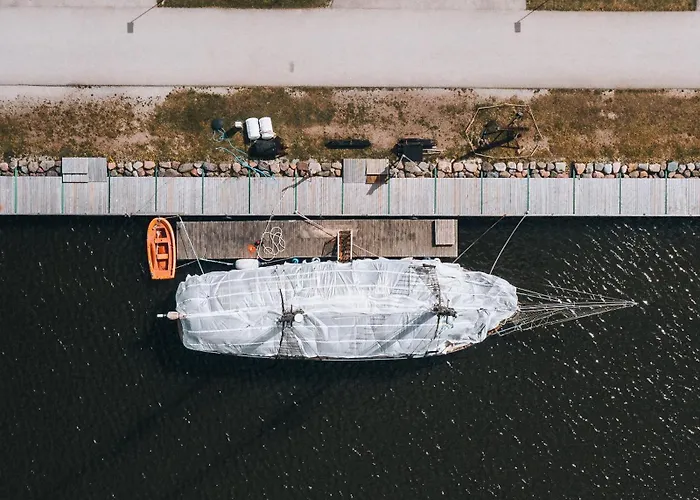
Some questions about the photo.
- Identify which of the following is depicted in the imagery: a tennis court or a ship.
ship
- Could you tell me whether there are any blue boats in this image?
No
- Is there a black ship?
No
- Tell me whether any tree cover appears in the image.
No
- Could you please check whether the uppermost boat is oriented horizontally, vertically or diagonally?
vertically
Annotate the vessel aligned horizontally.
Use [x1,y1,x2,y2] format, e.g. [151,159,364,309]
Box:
[157,256,636,360]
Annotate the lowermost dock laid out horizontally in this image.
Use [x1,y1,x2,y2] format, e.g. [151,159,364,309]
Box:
[176,220,457,259]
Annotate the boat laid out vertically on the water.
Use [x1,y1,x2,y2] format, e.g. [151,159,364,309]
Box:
[146,218,176,279]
